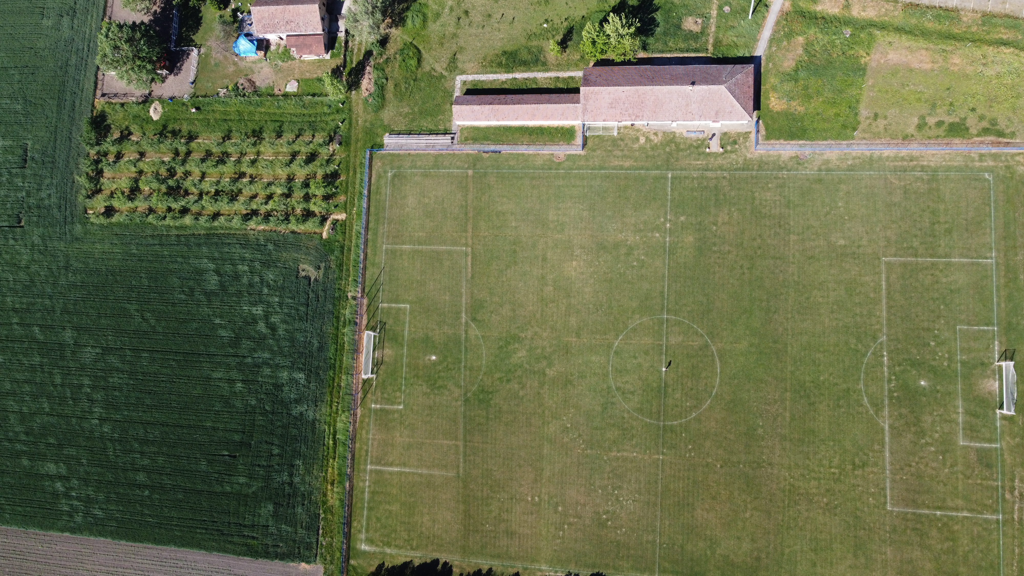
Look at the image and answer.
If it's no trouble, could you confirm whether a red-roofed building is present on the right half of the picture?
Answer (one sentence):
No, there's no red-roofed building to be seen on the right half of the picture.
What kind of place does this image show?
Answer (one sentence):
This image shows a sports ground.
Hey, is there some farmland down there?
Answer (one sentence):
Yes, farmland shows up in the scene.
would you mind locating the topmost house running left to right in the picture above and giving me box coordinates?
[251,0,331,39]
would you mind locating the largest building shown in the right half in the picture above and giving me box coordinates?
[581,64,754,130]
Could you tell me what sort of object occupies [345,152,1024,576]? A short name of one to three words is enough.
soccer field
